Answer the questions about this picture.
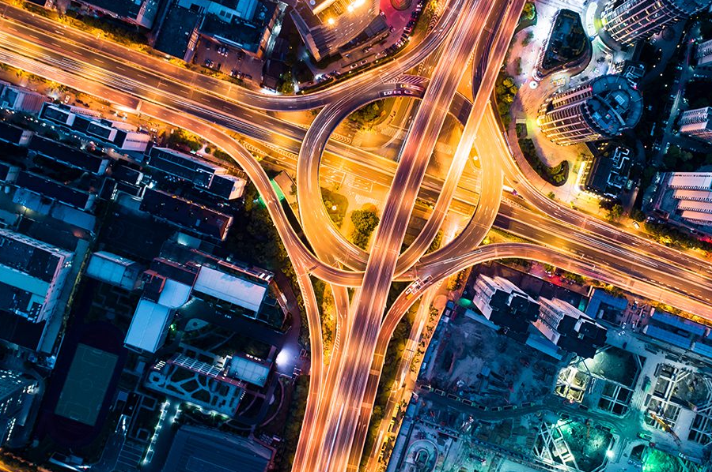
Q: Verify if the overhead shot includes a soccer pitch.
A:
Yes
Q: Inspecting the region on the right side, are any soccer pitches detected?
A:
No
